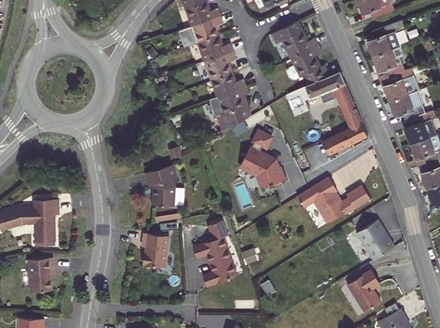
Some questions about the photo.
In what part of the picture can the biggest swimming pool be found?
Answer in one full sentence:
You can find the biggest swimming pool in the center area of the picture.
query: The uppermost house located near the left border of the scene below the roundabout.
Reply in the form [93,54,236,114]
[0,199,60,246]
